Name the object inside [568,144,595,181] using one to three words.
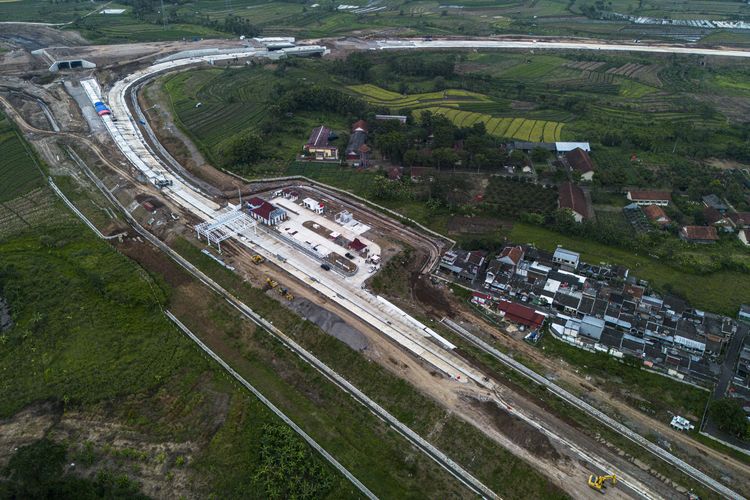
house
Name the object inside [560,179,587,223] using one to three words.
house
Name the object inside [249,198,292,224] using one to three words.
building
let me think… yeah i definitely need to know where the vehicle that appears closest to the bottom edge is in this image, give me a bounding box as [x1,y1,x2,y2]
[587,471,621,490]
